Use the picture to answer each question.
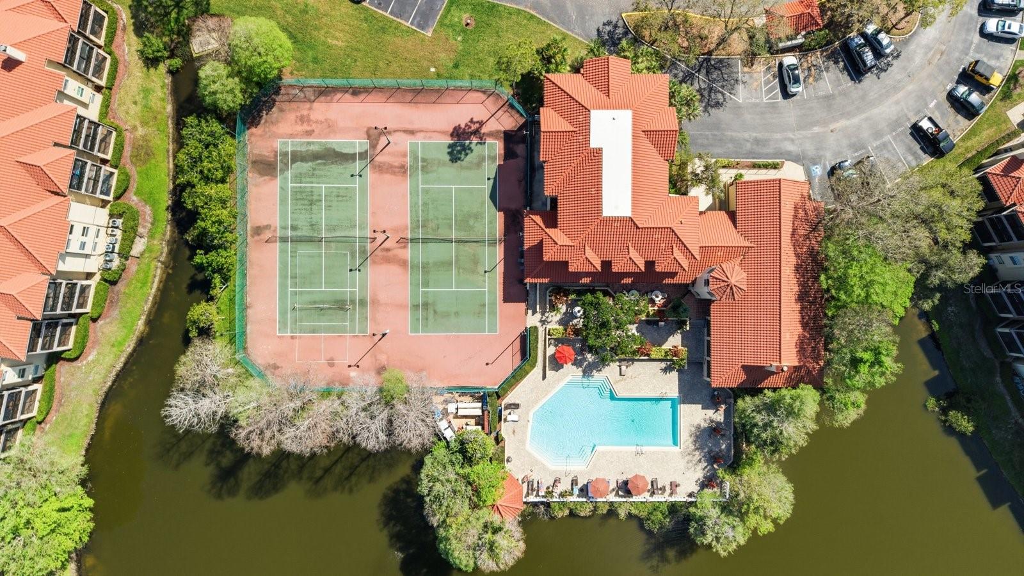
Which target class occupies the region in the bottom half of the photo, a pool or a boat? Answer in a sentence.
The one visible in the bottom half of the photo is a pool.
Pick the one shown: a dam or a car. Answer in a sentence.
This aerial view contains a car.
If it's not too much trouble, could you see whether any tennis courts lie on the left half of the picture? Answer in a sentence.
Yes, you'll find a tennis court on the left half of the picture.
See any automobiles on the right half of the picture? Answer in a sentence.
Yes, the scene does show an automobile on the right half of the picture.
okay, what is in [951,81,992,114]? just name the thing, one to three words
car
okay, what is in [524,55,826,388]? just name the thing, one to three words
building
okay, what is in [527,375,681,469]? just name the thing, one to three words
swimming pool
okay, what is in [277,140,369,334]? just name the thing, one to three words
tennis court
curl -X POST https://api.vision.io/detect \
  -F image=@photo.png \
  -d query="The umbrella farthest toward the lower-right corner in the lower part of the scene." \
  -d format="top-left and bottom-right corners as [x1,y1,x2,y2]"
[628,475,648,495]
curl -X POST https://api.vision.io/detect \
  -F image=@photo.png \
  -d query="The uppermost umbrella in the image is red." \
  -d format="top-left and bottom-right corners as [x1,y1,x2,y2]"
[555,345,575,364]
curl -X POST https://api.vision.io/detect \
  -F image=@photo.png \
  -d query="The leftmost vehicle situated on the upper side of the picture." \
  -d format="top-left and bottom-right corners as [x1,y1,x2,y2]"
[781,54,807,95]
